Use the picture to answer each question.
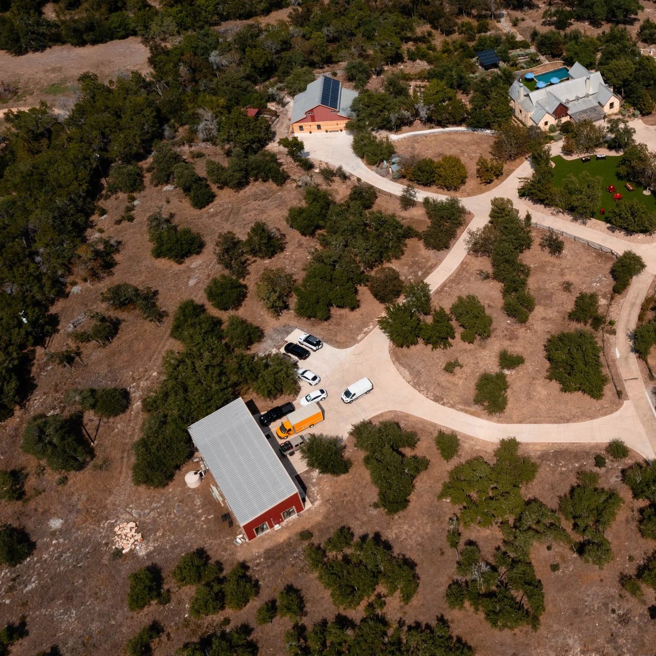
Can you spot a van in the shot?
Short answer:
Yes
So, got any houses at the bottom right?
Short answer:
No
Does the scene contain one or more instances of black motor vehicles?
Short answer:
Yes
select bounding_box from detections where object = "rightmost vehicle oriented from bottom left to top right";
[341,375,376,404]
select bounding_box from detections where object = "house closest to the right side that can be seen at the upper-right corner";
[506,61,621,133]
